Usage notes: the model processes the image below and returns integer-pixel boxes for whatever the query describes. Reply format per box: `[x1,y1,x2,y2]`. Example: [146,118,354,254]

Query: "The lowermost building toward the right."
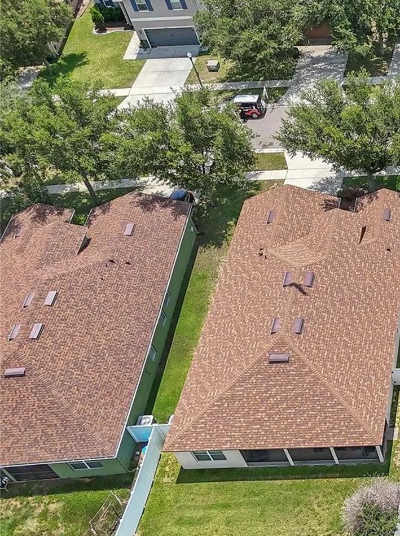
[161,184,400,467]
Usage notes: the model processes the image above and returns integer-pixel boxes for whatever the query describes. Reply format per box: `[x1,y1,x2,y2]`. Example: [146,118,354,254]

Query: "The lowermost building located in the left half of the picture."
[0,189,197,486]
